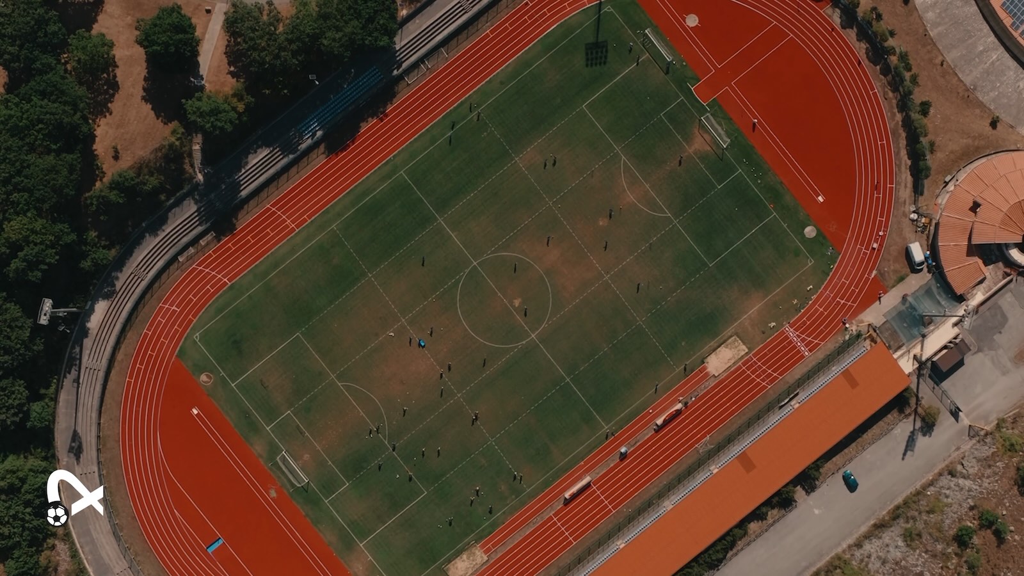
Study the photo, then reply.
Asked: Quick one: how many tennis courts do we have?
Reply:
none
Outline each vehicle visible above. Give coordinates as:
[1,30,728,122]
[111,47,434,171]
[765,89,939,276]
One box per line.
[908,243,925,270]
[843,471,859,492]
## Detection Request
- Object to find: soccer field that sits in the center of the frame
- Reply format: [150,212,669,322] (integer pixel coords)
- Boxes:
[177,0,840,576]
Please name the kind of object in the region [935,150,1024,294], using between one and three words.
building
